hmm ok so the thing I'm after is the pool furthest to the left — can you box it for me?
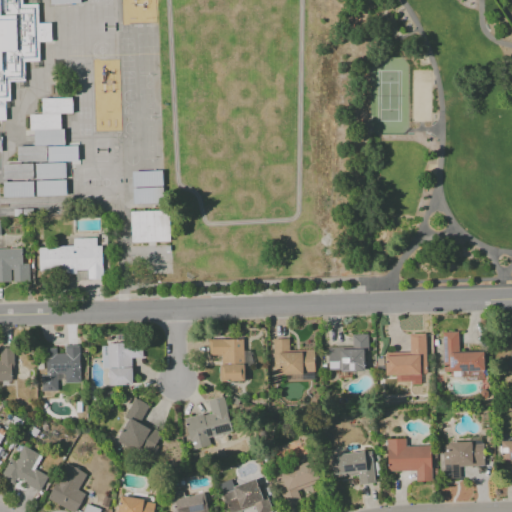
[50,402,72,416]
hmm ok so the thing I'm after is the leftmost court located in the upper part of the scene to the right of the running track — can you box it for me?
[372,57,411,134]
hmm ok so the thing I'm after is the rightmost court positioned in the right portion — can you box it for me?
[412,70,434,122]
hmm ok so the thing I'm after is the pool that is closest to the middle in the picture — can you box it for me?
[284,382,306,402]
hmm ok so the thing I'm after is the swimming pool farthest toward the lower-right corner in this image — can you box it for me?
[455,414,480,436]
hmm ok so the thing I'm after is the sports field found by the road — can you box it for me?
[160,0,304,280]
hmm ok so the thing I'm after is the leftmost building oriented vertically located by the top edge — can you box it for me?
[0,0,52,122]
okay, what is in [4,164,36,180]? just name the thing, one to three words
building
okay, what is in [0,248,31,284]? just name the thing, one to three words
house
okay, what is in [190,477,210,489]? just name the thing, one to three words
swimming pool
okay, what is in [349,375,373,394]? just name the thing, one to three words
swimming pool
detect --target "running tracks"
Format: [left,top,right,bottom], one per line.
[168,0,304,225]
